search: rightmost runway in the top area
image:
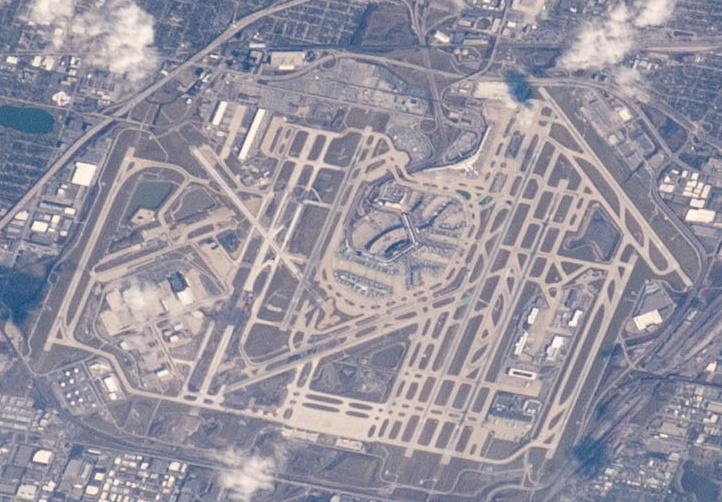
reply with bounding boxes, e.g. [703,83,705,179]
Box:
[537,84,694,286]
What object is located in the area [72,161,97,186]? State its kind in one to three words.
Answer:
building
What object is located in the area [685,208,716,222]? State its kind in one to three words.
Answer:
building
